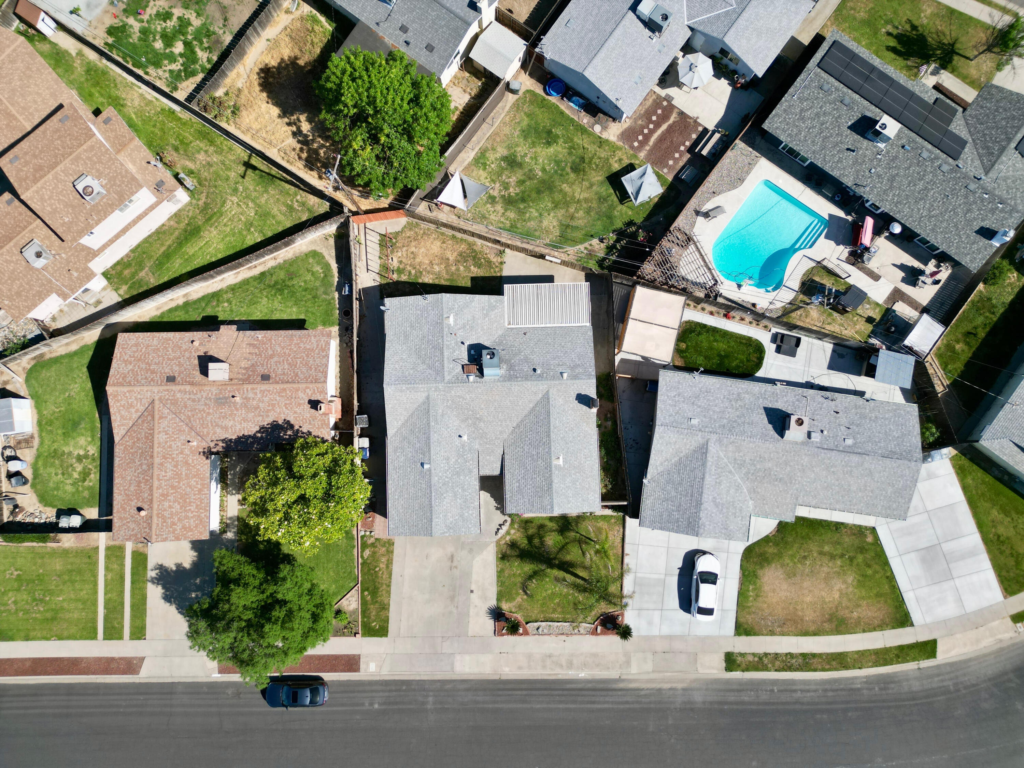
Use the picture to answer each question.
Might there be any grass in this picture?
Yes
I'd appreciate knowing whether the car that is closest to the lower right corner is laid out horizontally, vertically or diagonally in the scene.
vertically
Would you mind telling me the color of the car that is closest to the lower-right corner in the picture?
white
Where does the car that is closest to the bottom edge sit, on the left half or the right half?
left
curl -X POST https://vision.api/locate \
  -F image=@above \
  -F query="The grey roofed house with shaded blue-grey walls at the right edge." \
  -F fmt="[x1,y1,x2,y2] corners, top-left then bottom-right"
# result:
[962,338,1024,477]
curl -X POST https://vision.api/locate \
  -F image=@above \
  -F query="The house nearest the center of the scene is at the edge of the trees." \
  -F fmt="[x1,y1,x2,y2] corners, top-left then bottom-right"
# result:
[383,293,603,536]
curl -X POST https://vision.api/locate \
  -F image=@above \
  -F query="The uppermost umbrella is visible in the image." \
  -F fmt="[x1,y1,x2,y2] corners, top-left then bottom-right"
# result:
[678,53,714,88]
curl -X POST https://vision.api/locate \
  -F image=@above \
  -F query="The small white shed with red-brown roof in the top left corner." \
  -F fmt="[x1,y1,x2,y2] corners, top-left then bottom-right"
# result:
[13,0,61,39]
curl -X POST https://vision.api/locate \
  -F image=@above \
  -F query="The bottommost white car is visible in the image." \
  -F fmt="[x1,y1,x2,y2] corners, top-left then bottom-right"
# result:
[690,552,725,622]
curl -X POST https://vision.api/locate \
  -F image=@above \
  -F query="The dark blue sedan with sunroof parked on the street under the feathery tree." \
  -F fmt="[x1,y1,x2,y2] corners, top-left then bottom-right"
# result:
[267,678,331,713]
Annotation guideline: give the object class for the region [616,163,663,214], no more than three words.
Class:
tent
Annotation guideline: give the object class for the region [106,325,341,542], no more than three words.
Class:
house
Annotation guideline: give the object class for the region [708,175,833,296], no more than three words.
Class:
swimming pool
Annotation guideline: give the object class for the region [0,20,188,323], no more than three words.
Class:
house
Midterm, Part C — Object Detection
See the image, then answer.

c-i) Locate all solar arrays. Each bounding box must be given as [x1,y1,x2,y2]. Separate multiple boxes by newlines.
[818,41,967,159]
